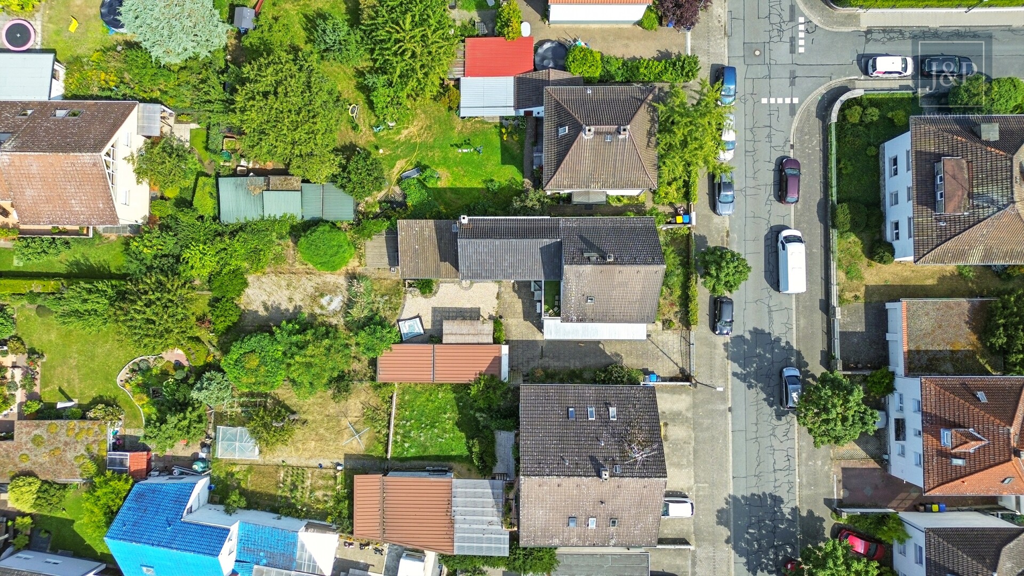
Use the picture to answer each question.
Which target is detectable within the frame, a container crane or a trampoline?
trampoline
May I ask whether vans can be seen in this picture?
Yes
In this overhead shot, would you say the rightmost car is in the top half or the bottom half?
top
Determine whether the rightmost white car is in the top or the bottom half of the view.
top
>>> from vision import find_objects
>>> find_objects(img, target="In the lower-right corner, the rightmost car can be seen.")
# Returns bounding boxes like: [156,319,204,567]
[833,525,884,560]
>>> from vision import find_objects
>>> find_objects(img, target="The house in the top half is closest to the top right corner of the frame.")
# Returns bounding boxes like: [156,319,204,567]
[883,113,1024,266]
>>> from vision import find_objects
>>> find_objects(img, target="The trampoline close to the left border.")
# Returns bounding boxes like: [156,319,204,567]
[2,19,39,46]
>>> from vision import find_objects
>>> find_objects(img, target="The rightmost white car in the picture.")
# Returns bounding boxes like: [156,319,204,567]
[865,54,910,79]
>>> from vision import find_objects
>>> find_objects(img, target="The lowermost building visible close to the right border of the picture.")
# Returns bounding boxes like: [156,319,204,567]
[895,513,1024,576]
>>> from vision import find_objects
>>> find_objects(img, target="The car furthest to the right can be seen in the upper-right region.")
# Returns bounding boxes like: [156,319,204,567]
[918,54,970,79]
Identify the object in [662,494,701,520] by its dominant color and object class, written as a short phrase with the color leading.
white car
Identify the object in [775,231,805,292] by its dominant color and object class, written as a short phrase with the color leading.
white van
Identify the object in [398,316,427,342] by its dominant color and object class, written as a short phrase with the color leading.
white gazebo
